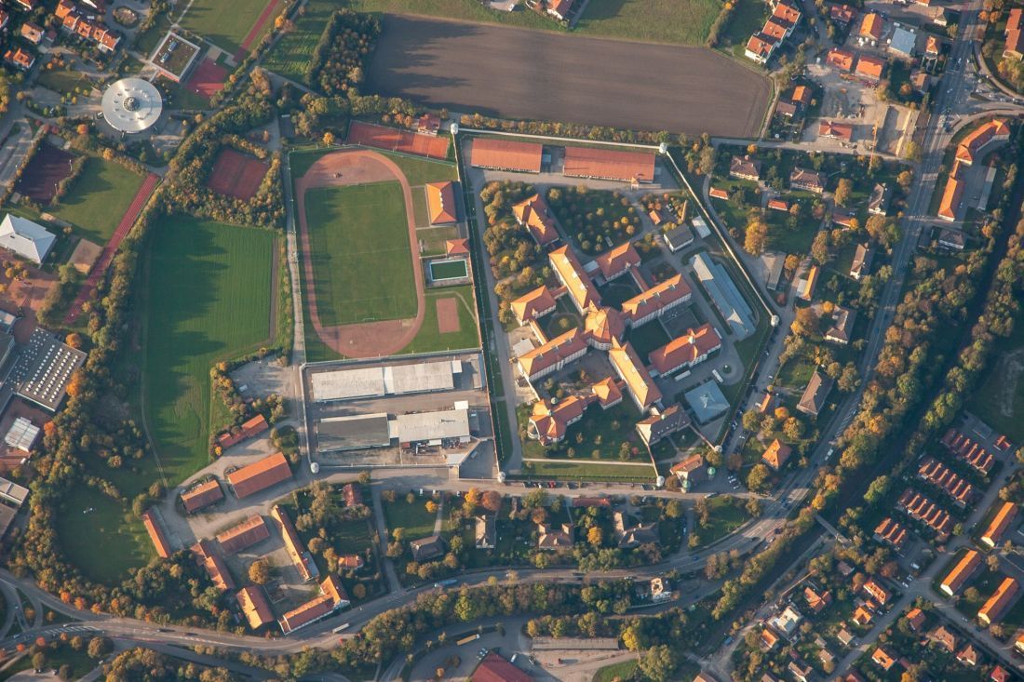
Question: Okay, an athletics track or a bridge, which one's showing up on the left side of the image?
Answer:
athletics track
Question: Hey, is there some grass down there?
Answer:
Yes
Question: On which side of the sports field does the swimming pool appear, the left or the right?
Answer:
to the right of it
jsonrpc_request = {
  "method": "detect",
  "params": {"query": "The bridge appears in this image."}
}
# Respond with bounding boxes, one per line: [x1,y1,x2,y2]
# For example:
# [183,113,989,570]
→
[792,502,869,563]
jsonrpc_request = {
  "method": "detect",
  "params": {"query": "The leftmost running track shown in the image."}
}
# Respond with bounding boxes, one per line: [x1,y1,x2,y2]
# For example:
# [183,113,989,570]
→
[64,173,160,322]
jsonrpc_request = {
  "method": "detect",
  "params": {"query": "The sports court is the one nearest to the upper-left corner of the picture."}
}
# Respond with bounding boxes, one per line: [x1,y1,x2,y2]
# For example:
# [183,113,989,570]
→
[16,138,79,199]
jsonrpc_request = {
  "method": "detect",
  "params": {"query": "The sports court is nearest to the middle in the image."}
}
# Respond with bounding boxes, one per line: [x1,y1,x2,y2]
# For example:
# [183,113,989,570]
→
[437,298,460,334]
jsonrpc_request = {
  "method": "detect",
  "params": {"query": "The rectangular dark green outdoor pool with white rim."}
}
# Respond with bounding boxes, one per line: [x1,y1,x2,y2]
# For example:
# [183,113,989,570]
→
[424,253,473,288]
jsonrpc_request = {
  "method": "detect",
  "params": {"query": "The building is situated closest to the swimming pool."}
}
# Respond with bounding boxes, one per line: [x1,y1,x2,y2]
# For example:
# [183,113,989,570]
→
[446,239,468,256]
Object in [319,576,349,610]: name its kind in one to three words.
house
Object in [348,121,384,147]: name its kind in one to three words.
tennis court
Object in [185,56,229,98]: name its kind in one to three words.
sports court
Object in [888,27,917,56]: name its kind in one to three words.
building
